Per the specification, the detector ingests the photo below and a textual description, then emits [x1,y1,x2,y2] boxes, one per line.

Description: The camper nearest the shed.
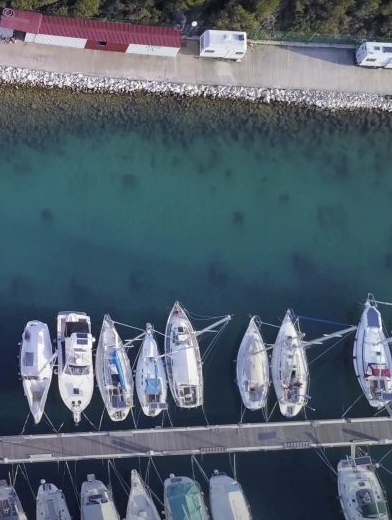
[199,32,247,69]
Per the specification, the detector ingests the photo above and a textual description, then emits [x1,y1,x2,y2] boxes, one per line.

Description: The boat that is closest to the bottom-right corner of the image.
[334,441,392,520]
